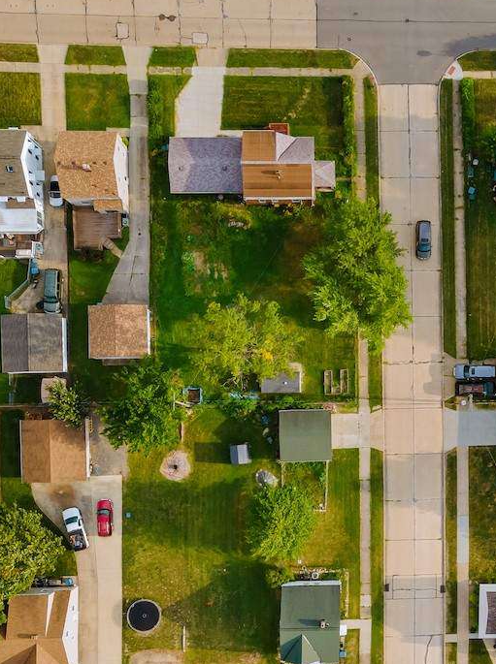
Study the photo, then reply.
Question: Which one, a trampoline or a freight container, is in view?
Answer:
trampoline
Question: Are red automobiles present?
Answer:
Yes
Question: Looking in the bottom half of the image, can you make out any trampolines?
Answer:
Yes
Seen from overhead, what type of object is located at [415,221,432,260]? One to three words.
car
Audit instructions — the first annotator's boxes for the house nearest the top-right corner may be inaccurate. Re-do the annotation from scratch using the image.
[170,123,336,201]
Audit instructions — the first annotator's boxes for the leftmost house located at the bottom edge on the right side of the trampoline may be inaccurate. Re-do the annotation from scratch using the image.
[278,581,347,664]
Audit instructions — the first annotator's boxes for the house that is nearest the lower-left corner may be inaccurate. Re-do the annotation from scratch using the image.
[0,590,74,664]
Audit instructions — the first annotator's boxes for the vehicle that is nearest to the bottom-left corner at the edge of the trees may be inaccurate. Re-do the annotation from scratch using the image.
[60,506,89,551]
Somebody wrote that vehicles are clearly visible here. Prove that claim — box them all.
[60,506,89,551]
[41,272,61,310]
[453,363,495,381]
[456,380,496,398]
[94,499,113,538]
[415,221,432,260]
[47,175,65,210]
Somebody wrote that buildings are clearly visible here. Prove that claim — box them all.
[20,420,90,483]
[0,590,74,664]
[0,313,67,374]
[56,131,127,215]
[229,443,251,464]
[170,123,336,201]
[0,130,50,234]
[477,581,496,638]
[88,304,149,359]
[261,365,300,393]
[278,581,347,664]
[279,409,332,462]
